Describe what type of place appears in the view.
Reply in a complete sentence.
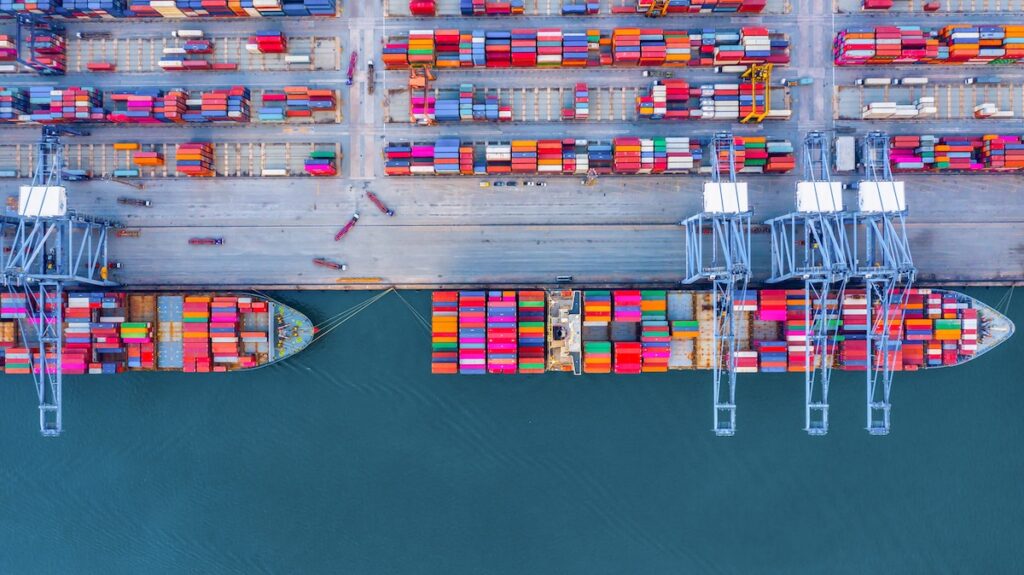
The picture captures a port.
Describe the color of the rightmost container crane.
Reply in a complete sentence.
The rightmost container crane is blue.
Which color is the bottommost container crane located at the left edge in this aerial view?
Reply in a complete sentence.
The bottommost container crane located at the left edge looks blue in the image.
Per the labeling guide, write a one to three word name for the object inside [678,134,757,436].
container crane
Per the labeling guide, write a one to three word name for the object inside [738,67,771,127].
container crane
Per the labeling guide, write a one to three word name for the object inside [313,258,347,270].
vehicle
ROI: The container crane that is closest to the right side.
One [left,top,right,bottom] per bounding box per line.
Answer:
[814,134,923,436]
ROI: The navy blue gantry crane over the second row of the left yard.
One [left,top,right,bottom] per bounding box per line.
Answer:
[17,13,64,74]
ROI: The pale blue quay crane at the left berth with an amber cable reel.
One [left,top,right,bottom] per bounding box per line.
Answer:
[0,134,125,436]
